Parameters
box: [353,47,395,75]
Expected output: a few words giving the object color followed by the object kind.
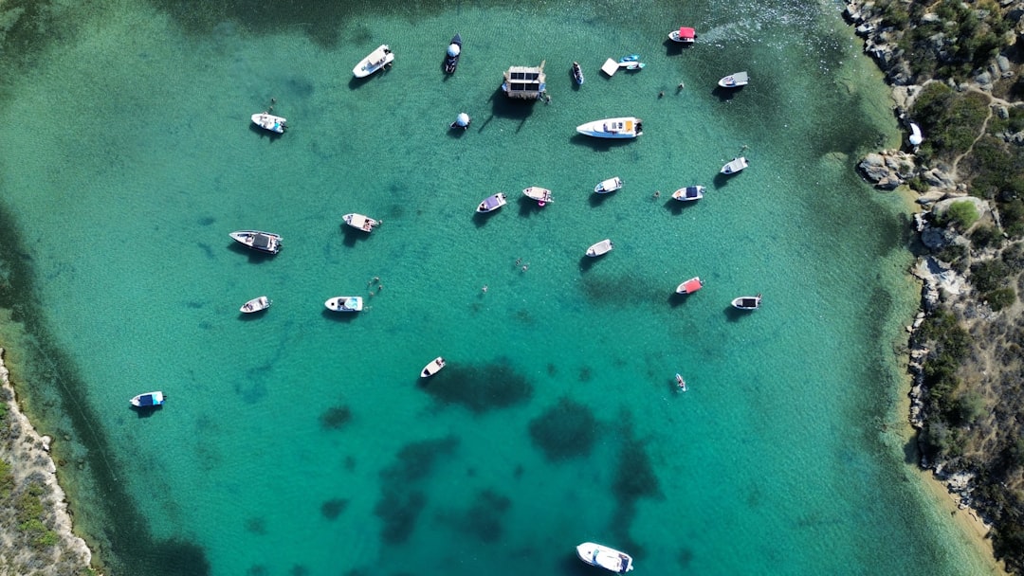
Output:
white boat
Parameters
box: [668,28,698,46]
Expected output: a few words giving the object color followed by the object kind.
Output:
red boat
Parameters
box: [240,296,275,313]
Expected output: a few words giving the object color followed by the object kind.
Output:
white boat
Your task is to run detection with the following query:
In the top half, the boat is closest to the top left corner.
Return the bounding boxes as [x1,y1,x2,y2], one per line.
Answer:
[251,111,287,132]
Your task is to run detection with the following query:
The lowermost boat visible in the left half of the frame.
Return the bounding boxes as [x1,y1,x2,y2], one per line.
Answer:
[131,391,169,406]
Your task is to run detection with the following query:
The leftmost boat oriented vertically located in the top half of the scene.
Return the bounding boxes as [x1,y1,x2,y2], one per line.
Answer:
[444,34,461,76]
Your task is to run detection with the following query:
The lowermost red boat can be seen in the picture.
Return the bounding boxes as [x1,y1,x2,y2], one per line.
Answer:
[676,277,704,294]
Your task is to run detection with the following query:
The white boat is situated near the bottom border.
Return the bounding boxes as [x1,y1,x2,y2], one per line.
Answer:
[576,543,635,575]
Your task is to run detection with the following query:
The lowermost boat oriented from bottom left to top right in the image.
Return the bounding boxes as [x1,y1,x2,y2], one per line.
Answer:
[421,356,447,377]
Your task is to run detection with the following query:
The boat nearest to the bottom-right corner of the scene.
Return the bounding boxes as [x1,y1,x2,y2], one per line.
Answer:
[731,296,762,309]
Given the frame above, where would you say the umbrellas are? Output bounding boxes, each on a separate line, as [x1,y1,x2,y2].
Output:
[447,41,459,53]
[457,115,468,126]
